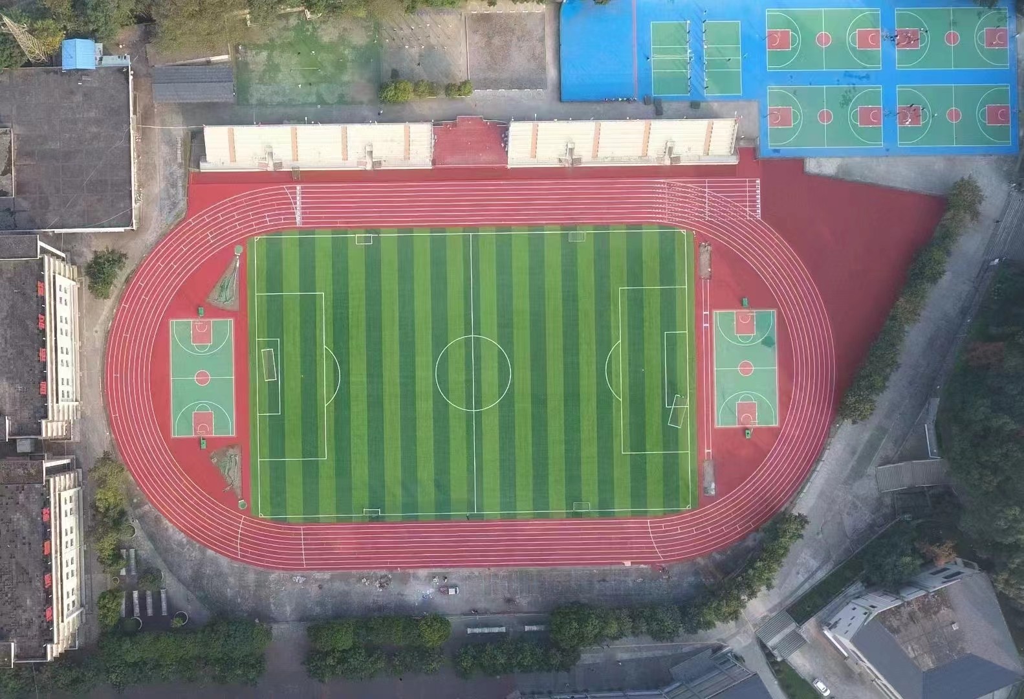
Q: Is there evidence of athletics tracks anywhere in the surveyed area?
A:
Yes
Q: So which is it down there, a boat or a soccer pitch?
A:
soccer pitch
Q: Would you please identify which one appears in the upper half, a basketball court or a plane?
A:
basketball court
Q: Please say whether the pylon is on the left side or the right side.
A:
left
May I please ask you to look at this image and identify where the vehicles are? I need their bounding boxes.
[440,586,459,595]
[812,676,830,694]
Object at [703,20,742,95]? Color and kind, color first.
green sports court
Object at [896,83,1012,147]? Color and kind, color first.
green basketball court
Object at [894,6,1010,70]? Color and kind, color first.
green basketball court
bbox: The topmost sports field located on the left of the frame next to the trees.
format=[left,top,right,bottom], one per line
[237,13,382,105]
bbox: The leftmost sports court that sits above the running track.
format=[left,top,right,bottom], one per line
[651,21,690,96]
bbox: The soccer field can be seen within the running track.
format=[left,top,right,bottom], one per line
[248,225,698,521]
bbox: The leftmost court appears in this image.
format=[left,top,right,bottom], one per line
[169,318,236,437]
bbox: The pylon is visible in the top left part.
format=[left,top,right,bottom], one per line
[0,22,51,66]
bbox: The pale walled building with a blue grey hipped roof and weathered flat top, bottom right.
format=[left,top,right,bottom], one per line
[823,564,1024,699]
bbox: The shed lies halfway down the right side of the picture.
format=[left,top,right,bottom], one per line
[923,397,940,423]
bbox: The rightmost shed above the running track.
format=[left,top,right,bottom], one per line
[151,66,236,106]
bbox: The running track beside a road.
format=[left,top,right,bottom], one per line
[105,146,951,569]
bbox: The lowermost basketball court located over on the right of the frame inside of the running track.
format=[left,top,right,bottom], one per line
[712,309,779,428]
